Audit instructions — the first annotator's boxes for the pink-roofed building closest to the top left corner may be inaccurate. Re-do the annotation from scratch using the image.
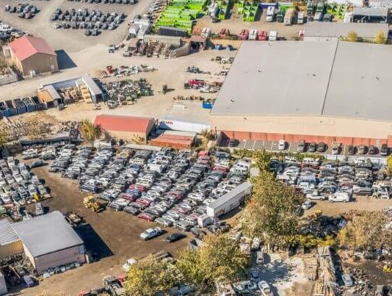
[7,34,58,75]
